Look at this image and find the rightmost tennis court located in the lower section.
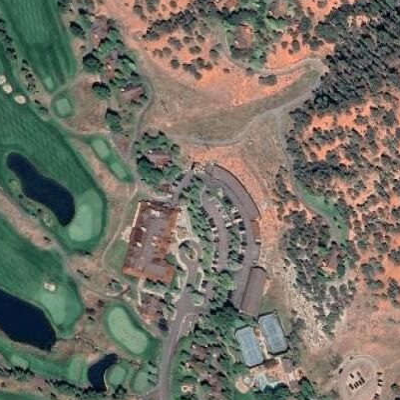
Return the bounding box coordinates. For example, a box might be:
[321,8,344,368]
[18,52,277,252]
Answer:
[259,313,289,355]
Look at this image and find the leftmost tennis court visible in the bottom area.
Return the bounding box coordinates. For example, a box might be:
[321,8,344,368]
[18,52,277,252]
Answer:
[236,326,265,368]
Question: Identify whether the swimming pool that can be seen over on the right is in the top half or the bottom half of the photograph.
bottom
